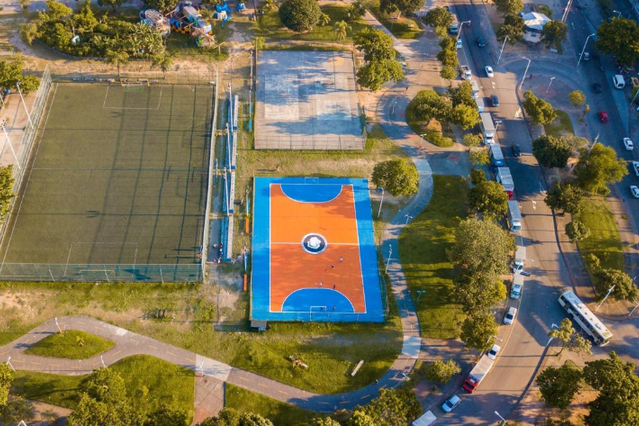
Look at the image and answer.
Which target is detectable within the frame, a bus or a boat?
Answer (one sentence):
Looking from above, you can make out a bus.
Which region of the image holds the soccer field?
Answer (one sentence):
The soccer field appears toward the left of the photo.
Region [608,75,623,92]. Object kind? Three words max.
vehicle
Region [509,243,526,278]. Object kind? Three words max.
vehicle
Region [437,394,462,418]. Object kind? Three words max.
car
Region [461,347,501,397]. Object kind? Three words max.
truck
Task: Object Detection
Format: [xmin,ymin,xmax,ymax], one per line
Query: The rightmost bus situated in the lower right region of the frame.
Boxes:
[555,291,611,350]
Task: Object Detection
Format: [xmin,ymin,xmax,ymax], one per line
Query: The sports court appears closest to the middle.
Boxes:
[248,176,385,322]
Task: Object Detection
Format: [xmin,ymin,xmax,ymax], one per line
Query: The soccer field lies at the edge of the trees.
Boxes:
[0,82,218,281]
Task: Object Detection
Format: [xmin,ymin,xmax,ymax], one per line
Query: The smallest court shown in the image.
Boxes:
[255,50,363,150]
